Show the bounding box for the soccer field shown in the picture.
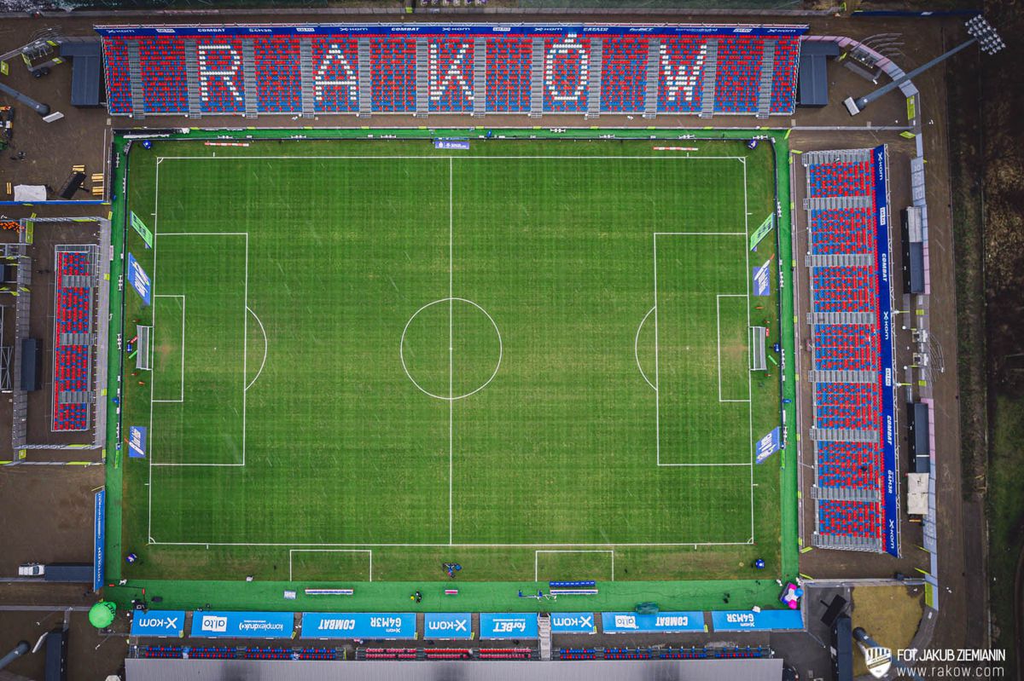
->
[121,140,782,583]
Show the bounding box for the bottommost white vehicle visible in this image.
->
[18,563,47,577]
